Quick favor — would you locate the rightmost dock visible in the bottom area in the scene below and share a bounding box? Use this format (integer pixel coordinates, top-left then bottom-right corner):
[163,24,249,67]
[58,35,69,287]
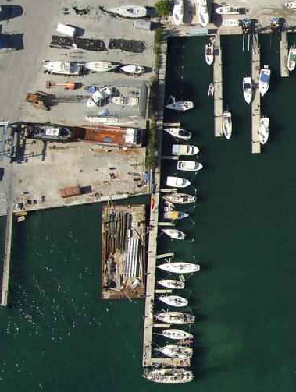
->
[142,121,190,367]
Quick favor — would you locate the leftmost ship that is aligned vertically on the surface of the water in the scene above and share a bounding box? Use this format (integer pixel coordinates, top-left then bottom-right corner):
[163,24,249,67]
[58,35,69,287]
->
[101,198,147,301]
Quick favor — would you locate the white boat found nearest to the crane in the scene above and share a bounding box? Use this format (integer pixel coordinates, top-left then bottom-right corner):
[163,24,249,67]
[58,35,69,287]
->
[88,86,114,107]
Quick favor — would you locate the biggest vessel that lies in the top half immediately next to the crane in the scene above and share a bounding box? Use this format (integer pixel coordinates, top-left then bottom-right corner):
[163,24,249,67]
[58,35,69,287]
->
[72,124,146,149]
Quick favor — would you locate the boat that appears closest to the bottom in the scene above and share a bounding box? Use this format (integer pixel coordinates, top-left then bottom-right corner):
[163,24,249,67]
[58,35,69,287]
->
[142,369,194,383]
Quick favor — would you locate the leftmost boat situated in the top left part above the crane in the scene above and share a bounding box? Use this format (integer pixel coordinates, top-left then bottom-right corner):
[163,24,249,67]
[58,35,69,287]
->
[42,60,84,77]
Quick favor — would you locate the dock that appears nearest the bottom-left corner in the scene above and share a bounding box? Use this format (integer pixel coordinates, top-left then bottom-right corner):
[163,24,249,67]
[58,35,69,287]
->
[1,212,14,306]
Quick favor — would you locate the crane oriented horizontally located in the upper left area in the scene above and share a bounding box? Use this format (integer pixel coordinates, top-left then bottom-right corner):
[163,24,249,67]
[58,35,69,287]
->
[20,91,89,113]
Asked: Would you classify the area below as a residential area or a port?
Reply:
port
